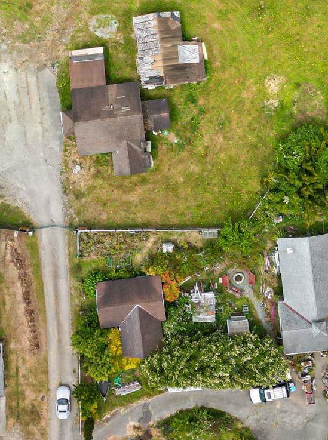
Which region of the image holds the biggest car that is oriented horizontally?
bottom right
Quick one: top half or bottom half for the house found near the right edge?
bottom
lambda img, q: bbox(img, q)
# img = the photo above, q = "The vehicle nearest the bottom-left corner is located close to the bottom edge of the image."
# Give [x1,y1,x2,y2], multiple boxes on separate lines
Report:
[55,385,72,420]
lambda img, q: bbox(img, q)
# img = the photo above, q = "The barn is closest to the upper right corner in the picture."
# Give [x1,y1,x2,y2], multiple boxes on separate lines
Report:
[133,11,205,88]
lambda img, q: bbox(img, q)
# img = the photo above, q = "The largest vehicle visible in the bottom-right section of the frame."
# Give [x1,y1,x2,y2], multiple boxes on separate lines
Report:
[251,384,290,404]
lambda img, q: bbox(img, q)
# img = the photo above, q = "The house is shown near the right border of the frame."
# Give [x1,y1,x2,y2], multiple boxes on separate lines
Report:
[278,232,328,355]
